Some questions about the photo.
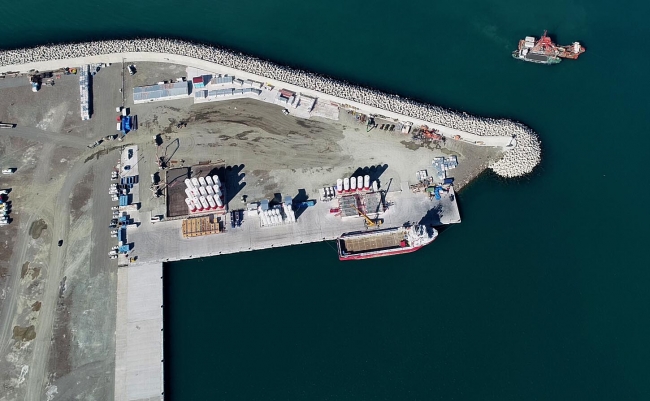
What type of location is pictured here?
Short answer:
port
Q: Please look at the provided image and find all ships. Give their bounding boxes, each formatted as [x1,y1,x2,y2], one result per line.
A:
[517,29,587,57]
[512,51,562,66]
[338,223,438,261]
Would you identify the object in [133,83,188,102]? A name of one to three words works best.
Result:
shed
